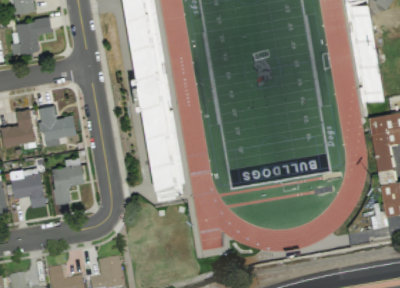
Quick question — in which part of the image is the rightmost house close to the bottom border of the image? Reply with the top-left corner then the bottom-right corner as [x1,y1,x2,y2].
[91,255,126,288]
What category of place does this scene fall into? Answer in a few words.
sports ground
